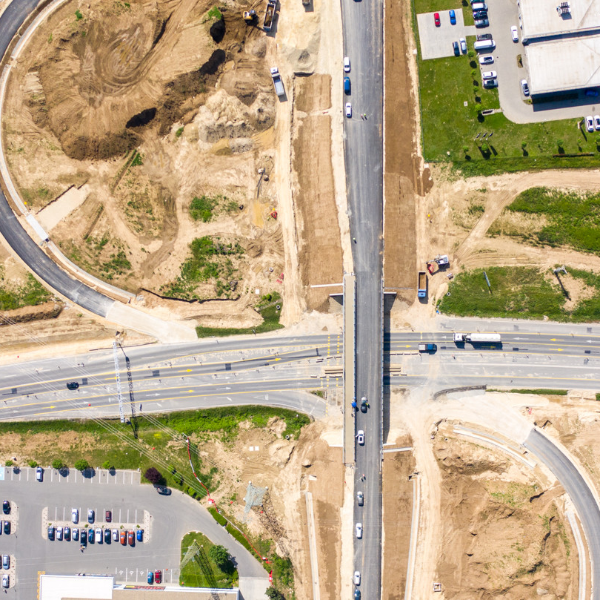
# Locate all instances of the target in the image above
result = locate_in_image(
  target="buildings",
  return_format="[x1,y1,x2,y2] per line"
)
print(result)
[514,0,600,100]
[39,575,240,600]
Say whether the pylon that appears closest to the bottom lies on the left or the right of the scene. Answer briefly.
left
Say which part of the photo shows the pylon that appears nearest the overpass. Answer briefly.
bottom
